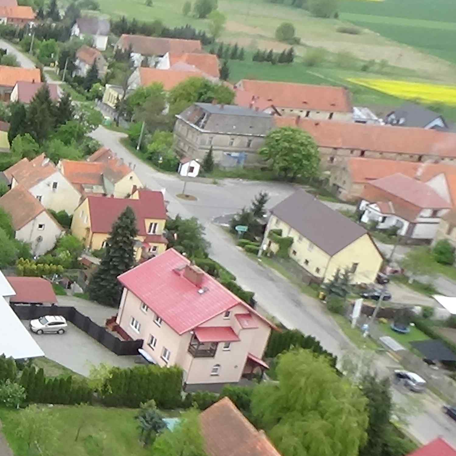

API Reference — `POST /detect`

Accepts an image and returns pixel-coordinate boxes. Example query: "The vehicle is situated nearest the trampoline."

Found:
[359,286,392,301]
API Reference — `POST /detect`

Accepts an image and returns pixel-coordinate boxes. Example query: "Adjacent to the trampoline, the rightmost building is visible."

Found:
[403,338,456,379]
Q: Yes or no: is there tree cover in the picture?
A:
Yes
